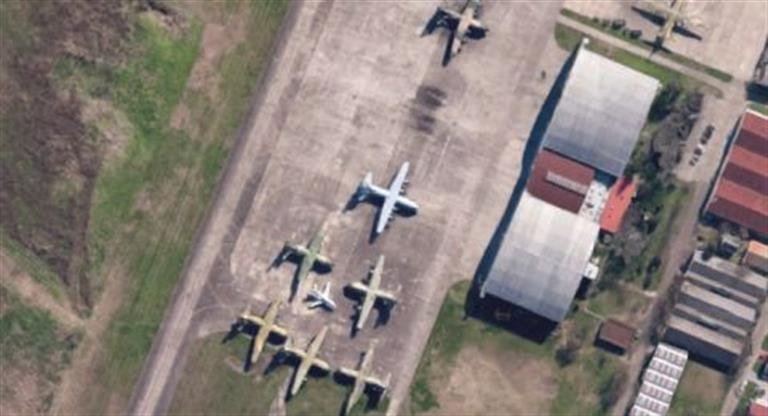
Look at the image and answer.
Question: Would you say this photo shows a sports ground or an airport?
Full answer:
What you see here is an airport.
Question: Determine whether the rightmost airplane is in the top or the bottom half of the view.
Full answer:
The rightmost airplane sits in the top half of the picture.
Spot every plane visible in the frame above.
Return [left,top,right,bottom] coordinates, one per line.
[304,281,337,308]
[339,341,394,415]
[276,325,331,396]
[432,0,487,60]
[357,163,418,235]
[234,293,288,364]
[350,254,404,328]
[278,222,333,292]
[638,0,710,47]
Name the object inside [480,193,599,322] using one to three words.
hangar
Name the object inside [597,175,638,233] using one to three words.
house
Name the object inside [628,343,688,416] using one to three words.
shed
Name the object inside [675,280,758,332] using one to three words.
building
